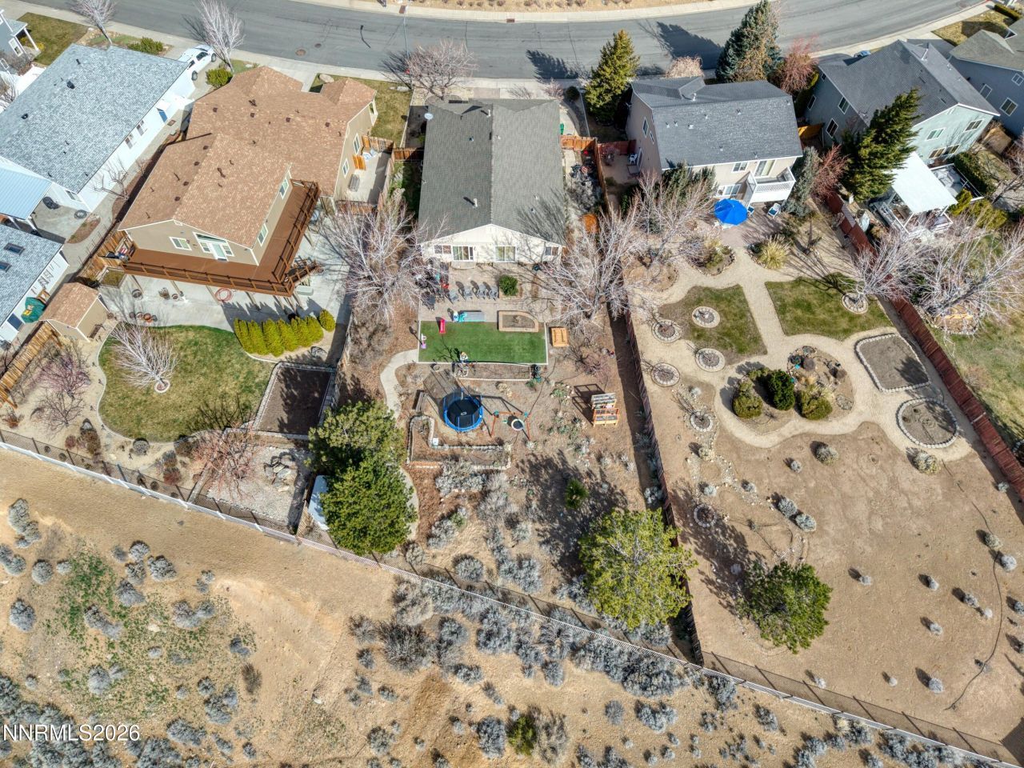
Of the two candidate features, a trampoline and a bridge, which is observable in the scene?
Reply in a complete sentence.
It is a trampoline that can be seen here.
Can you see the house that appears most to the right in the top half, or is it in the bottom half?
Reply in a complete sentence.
The top half of the photo is where the house that appears most to the right is.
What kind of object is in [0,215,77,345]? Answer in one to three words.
house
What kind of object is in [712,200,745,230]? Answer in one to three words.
umbrella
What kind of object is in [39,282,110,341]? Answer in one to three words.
shed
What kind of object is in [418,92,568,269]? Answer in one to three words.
house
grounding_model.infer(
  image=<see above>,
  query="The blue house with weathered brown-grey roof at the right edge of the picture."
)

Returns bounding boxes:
[947,3,1024,123]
